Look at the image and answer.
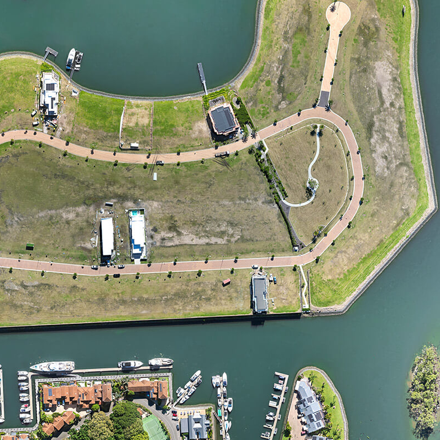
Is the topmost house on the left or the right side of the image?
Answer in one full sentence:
It is on the left.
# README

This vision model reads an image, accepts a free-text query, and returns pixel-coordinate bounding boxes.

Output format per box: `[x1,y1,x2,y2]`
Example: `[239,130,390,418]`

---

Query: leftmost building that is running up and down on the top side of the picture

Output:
[40,71,61,113]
